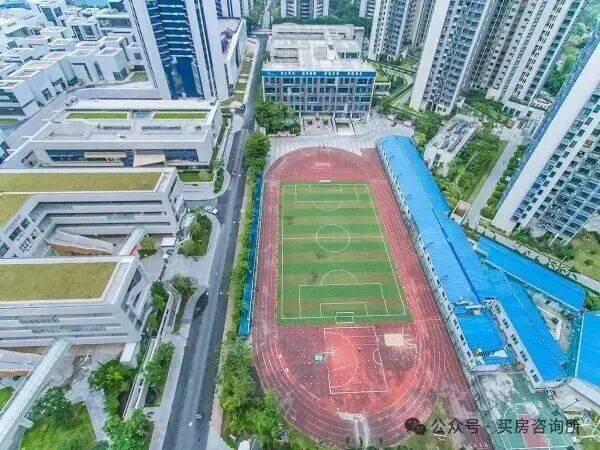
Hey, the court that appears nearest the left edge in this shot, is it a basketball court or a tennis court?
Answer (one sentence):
The court that appears nearest the left edge appears to be a basketball court.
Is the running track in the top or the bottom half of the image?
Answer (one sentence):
It is in the bottom half that the running track appears.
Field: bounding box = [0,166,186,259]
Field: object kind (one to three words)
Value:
building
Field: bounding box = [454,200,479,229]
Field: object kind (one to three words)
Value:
building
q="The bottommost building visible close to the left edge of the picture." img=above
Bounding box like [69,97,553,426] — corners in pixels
[0,255,152,340]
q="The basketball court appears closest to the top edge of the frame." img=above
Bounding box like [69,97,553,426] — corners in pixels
[324,326,387,393]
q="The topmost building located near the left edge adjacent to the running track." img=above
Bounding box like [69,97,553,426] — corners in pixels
[0,97,222,169]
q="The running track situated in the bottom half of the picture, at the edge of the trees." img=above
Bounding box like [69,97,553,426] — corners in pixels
[249,147,494,450]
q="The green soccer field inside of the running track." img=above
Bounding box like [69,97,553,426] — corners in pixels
[271,181,416,326]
